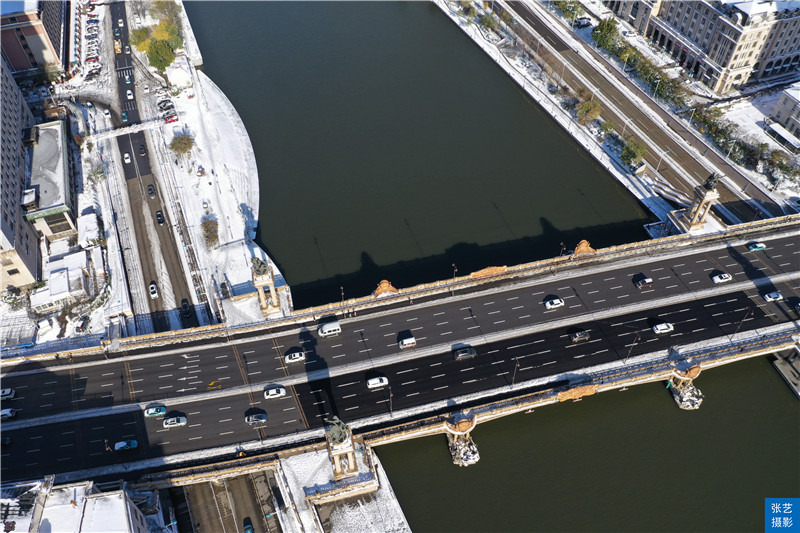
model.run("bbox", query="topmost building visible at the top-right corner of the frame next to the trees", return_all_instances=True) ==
[604,0,800,92]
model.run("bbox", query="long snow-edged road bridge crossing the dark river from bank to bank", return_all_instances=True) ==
[0,202,800,533]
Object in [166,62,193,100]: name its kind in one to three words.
building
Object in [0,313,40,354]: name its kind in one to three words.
building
